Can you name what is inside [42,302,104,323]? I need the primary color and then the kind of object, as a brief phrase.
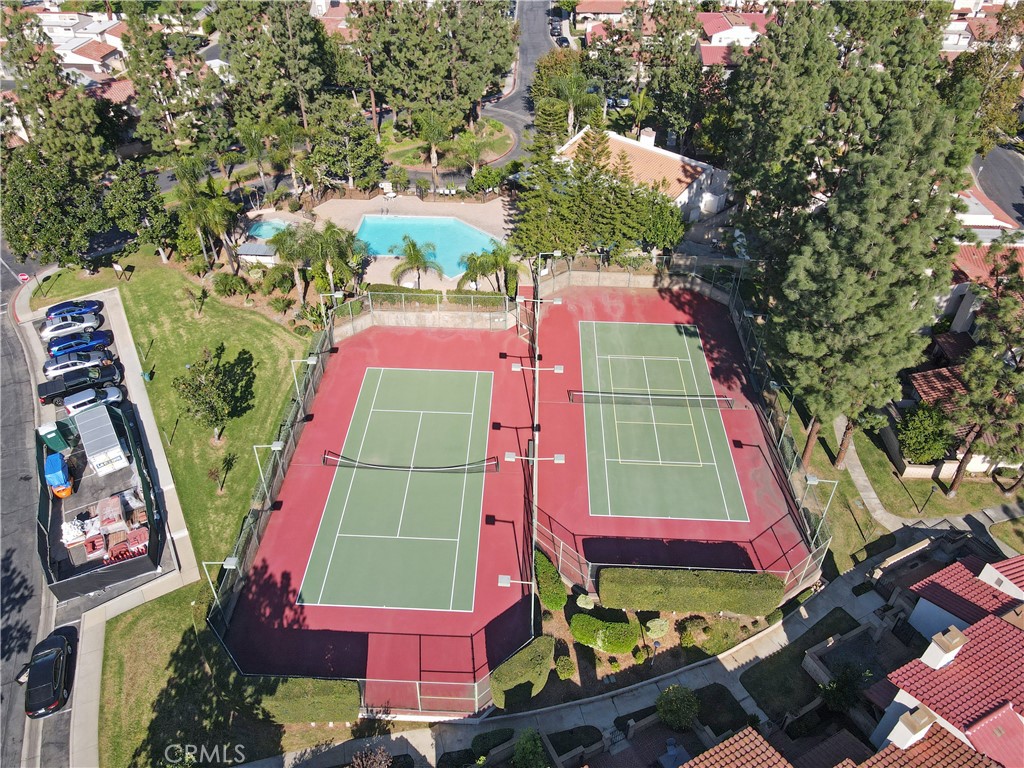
blue car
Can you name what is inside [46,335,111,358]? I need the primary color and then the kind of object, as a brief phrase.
blue car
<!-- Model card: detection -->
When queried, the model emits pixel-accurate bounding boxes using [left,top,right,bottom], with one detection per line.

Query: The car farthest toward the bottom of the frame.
[18,639,81,723]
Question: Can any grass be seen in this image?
Yes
